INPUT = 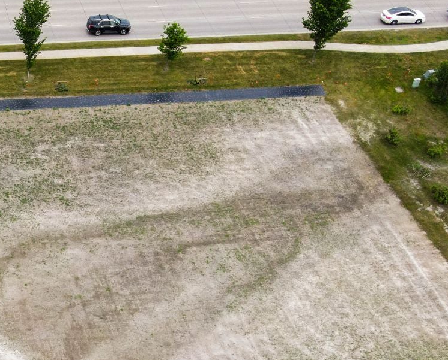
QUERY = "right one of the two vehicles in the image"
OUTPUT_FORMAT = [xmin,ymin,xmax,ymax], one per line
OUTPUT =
[381,6,427,25]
